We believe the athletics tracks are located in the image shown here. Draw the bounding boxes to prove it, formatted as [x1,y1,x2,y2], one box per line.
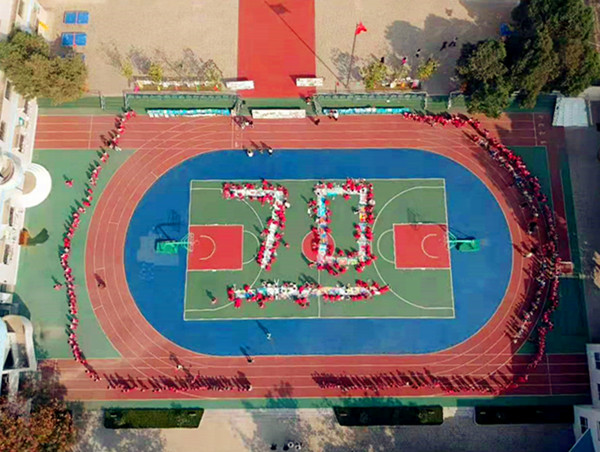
[32,111,592,399]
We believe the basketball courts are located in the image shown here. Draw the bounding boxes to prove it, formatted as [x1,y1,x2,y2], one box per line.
[184,178,455,320]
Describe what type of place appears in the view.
sports ground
